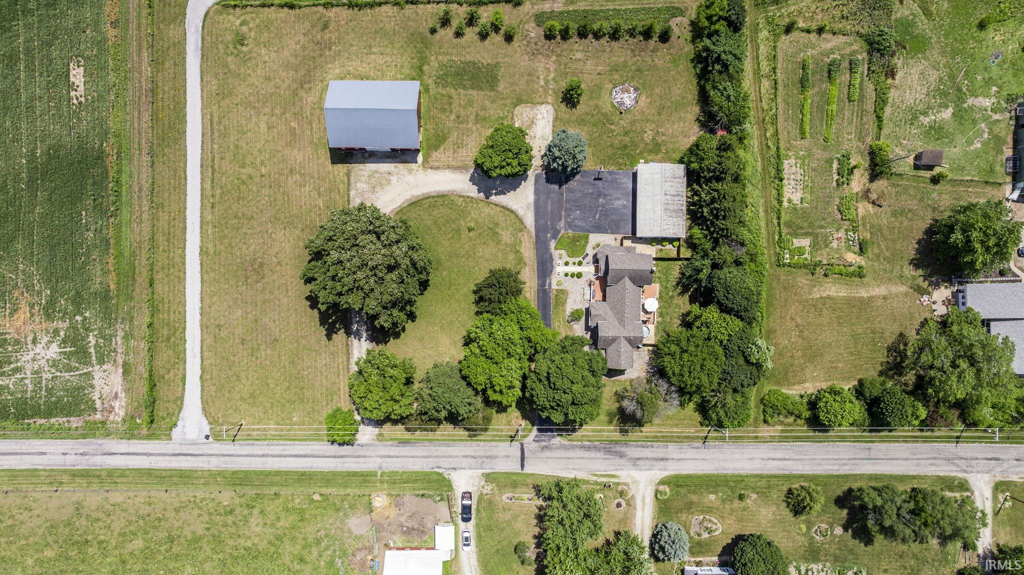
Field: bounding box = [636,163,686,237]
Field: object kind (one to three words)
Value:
building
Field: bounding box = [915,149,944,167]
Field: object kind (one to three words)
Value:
shed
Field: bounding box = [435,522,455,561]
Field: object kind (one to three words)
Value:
shed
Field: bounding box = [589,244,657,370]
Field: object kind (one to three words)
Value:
house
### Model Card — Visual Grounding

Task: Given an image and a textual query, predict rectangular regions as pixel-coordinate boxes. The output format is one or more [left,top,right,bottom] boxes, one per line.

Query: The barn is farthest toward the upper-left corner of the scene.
[324,80,423,152]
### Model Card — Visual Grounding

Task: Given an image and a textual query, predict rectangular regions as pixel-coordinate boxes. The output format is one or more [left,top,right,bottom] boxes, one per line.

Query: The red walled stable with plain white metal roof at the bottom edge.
[384,547,441,575]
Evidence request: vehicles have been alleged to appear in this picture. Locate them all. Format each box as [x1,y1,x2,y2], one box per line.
[460,491,472,523]
[460,530,471,554]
